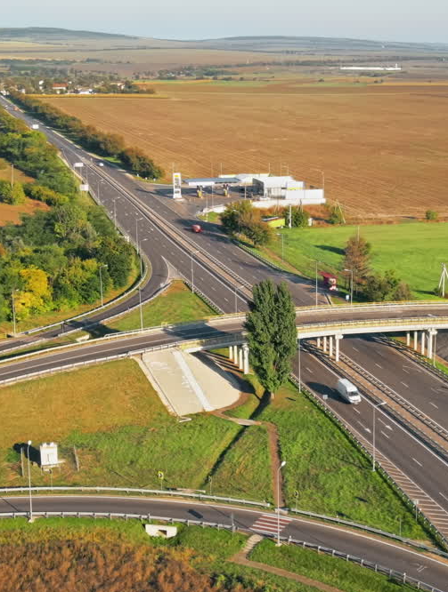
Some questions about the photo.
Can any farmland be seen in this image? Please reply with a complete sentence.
Yes, some farmland is visible.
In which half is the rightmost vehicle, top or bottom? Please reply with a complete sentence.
Seen from above, the rightmost vehicle lies in the bottom half of the view.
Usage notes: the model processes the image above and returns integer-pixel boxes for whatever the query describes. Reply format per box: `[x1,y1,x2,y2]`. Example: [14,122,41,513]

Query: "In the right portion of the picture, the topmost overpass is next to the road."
[110,300,448,375]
